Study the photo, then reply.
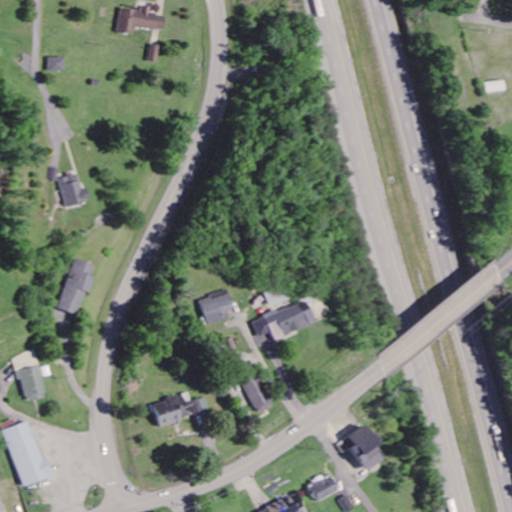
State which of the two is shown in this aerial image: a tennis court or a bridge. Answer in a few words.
bridge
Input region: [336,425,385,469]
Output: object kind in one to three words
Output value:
house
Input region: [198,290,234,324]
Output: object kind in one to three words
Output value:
house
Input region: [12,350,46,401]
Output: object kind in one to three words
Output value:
building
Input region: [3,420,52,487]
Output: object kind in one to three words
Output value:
barn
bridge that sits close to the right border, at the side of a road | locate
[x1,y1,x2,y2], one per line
[378,260,508,376]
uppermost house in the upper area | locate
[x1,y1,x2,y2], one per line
[116,6,165,34]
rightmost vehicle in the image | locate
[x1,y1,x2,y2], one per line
[492,428,508,462]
